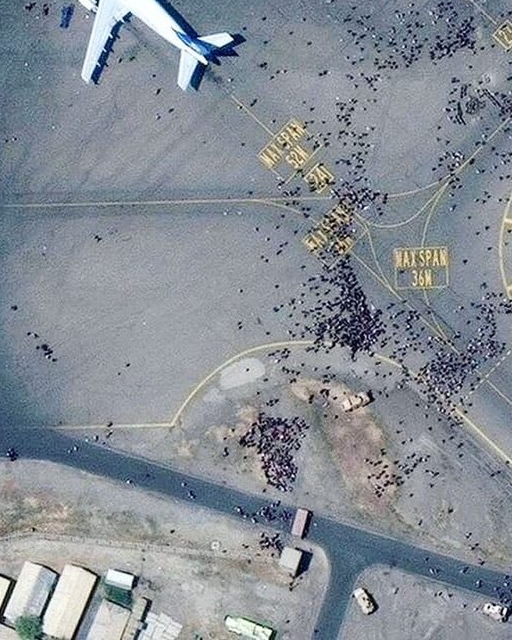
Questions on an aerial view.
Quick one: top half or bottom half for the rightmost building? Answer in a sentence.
The rightmost building is in the bottom half of the image.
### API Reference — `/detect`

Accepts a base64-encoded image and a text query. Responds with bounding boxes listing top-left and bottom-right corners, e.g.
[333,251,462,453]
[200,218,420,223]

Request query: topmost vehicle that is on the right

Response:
[340,391,372,412]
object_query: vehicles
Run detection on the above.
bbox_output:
[225,615,273,640]
[483,604,509,620]
[292,508,308,538]
[355,587,374,615]
[340,391,372,412]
